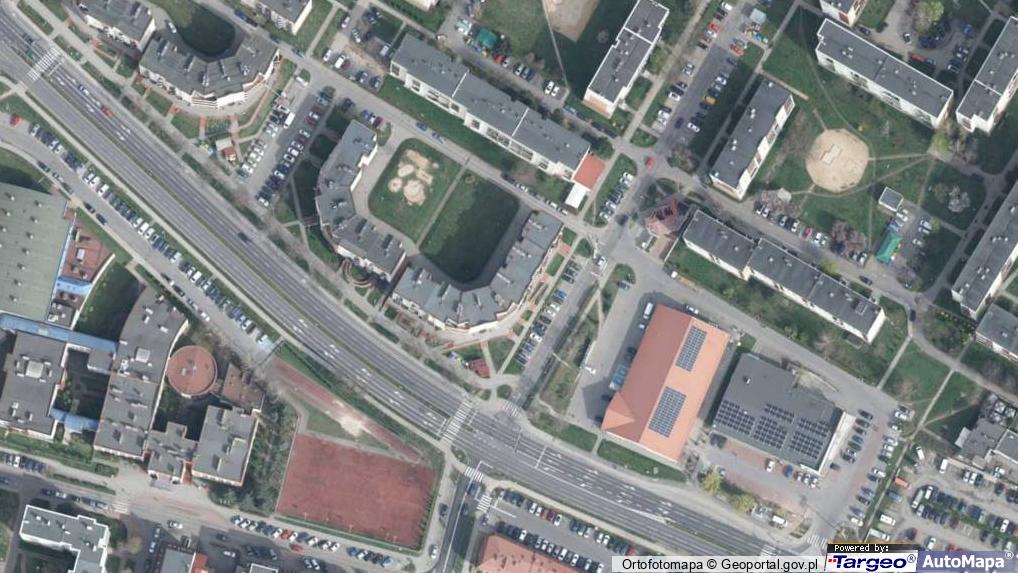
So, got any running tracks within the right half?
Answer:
No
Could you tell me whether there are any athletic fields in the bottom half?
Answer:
Yes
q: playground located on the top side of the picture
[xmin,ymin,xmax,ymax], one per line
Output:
[805,129,869,190]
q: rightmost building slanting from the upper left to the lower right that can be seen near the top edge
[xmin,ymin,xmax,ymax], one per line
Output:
[815,19,952,132]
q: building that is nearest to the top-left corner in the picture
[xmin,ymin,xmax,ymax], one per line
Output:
[75,0,156,53]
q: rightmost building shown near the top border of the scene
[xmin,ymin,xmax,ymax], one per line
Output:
[954,16,1018,135]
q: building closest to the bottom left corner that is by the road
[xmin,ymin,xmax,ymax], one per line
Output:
[20,505,109,573]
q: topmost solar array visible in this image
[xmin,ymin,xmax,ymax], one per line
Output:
[677,325,707,371]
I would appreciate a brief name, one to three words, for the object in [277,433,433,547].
sports field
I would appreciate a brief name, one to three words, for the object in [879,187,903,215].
building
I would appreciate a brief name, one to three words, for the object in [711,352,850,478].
building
